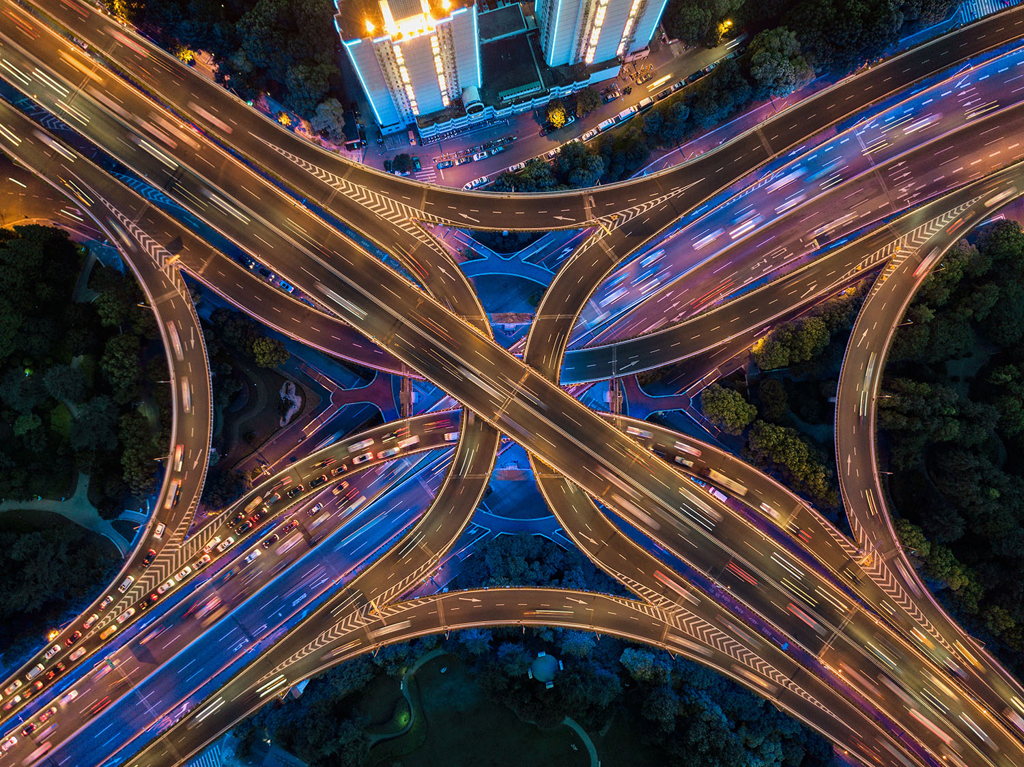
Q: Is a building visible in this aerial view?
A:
Yes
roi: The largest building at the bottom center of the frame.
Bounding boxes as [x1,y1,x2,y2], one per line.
[531,651,558,681]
